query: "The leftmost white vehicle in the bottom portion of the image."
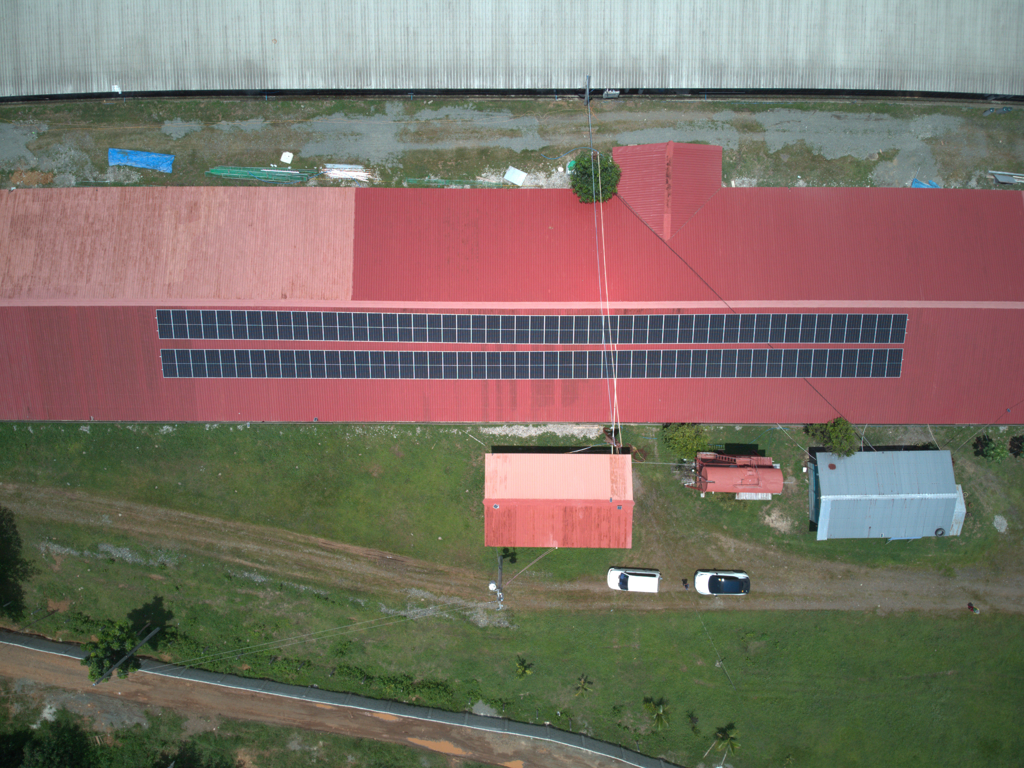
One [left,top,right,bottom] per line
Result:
[607,567,660,594]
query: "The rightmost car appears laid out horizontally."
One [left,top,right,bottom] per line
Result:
[693,569,751,598]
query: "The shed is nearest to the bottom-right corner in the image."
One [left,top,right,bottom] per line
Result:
[802,451,966,540]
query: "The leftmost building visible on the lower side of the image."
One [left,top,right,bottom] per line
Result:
[482,453,637,548]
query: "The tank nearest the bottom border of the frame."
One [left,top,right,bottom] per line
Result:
[685,450,792,500]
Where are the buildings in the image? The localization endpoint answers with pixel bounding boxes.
[0,142,1024,425]
[482,453,637,548]
[802,451,966,540]
[0,0,1024,104]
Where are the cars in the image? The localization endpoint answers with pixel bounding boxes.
[693,569,751,598]
[607,567,660,594]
